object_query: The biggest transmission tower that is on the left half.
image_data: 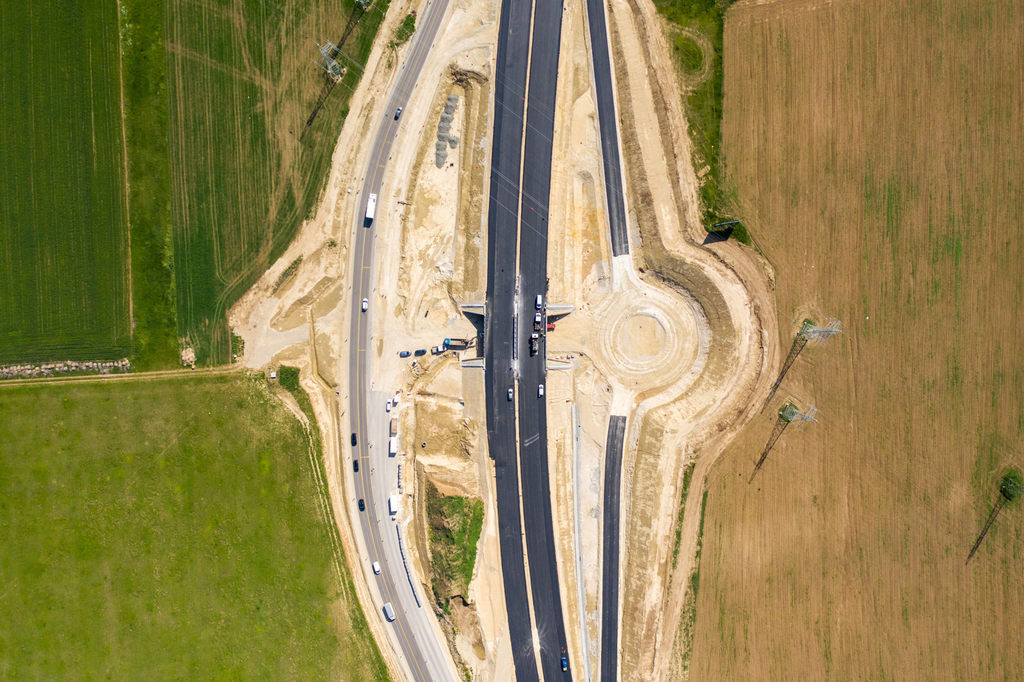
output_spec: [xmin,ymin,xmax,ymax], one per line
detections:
[309,34,346,80]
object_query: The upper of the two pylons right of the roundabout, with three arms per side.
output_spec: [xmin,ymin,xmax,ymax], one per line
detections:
[797,313,851,349]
